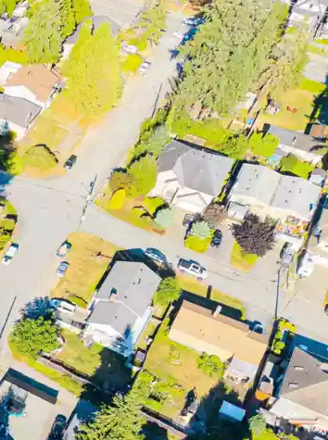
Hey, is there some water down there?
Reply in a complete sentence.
No, there is no water in the image.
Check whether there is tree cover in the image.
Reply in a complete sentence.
Yes, the picture does contain tree cover.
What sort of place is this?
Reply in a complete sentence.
This looks like a residential area.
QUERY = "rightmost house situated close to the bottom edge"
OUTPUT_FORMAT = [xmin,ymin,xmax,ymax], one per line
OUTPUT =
[268,345,328,438]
